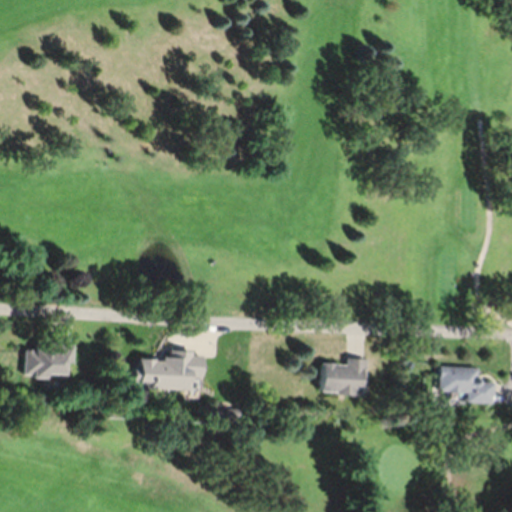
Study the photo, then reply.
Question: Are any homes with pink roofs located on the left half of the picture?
No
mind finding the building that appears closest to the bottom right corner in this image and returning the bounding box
[440,366,496,405]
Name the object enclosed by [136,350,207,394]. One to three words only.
house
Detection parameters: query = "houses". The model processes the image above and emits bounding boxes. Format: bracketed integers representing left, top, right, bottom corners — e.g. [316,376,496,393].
[440,366,496,405]
[322,358,368,398]
[136,350,207,394]
[25,338,77,381]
